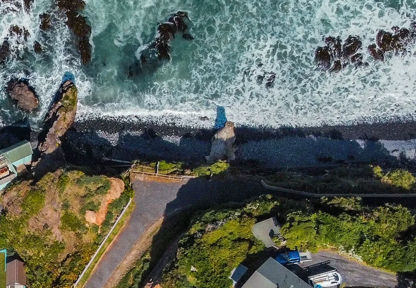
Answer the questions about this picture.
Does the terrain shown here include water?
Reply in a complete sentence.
Yes, there is water in the image.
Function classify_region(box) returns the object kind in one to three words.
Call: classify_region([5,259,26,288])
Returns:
shed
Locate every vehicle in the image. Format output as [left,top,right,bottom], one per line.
[273,250,313,265]
[305,270,341,288]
